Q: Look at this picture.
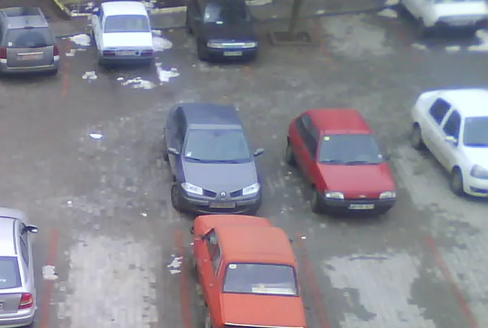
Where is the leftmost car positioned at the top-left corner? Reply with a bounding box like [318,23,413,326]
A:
[0,2,57,77]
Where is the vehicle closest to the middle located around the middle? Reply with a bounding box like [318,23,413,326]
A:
[158,104,262,213]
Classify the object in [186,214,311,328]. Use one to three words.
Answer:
car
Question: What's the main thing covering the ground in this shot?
paved ground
